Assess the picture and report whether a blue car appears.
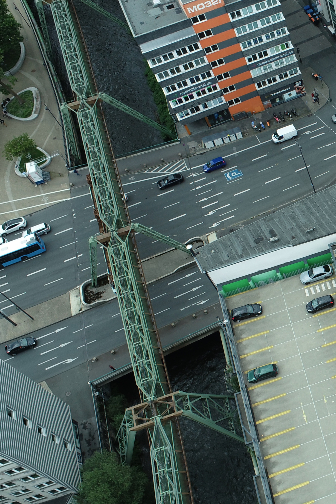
Yes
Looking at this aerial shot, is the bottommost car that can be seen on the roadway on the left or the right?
left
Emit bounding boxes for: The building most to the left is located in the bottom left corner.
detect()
[0,356,80,504]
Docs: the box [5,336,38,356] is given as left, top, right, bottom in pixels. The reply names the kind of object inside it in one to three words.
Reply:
car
